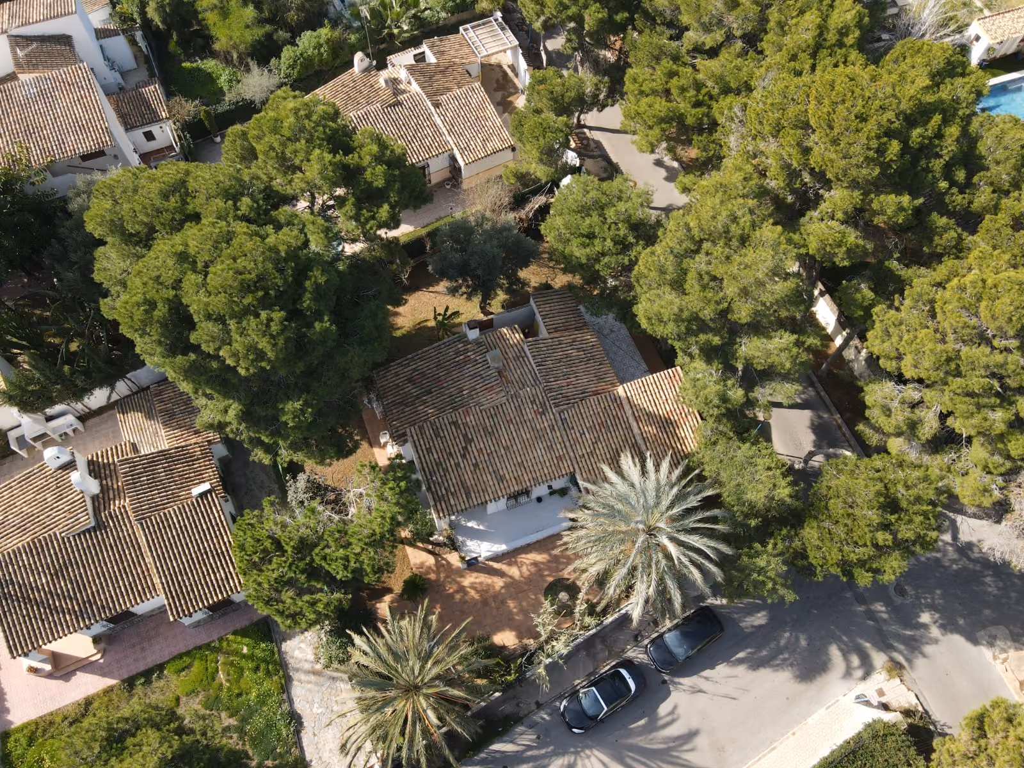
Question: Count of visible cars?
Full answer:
Looking from above, you can make out 2 cars.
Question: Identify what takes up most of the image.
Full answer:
The largest share of the image is taken up by trees.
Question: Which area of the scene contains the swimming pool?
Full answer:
The swimming pool is located in the top right region of the scene.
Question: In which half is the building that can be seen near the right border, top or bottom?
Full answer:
You can find the building that can be seen near the right border in the top half.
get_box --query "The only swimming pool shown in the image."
[972,78,1024,128]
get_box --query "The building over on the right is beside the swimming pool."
[960,1,1024,69]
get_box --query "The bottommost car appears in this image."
[560,656,649,735]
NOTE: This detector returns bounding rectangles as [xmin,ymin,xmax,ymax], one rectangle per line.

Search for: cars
[645,600,728,674]
[560,656,649,735]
